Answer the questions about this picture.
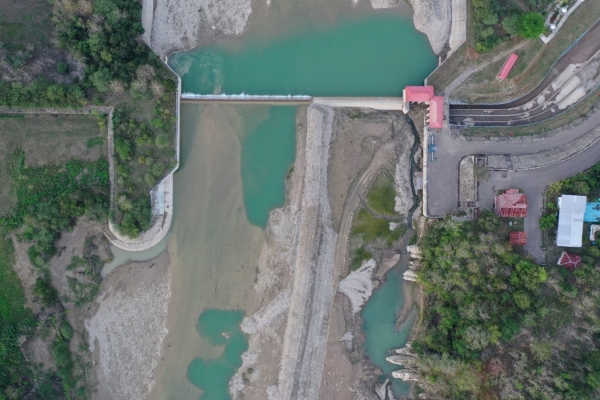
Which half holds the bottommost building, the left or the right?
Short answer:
right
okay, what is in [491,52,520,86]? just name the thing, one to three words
shed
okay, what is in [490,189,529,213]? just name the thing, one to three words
house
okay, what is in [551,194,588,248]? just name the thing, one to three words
building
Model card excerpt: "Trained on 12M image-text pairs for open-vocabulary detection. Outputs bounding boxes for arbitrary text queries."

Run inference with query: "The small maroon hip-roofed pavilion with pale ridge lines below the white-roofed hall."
[555,249,584,269]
